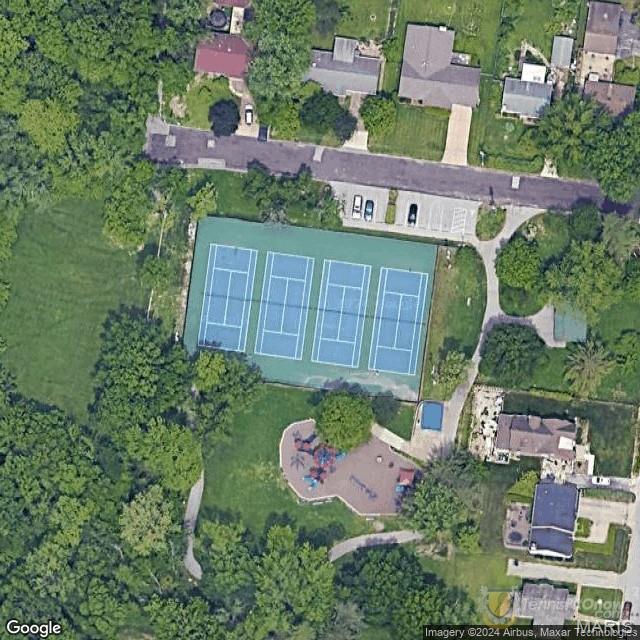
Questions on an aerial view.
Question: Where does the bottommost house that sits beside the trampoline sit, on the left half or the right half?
left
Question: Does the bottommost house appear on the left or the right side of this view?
right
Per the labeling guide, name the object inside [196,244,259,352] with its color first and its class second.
blue tennis court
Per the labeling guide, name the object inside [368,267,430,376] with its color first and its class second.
blue tennis court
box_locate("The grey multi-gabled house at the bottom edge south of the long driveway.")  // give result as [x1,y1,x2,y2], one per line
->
[511,584,577,640]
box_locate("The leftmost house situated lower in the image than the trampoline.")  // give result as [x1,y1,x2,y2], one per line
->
[194,31,249,79]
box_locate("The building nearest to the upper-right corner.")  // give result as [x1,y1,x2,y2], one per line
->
[584,1,622,56]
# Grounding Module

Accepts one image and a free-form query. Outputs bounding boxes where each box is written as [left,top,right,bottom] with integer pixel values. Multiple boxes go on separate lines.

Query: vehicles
[408,202,418,226]
[365,199,375,221]
[592,476,611,486]
[258,121,268,141]
[244,104,253,124]
[622,600,632,620]
[352,194,363,218]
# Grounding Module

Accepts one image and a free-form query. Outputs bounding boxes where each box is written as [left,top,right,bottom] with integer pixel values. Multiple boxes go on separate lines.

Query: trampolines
[209,9,227,26]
